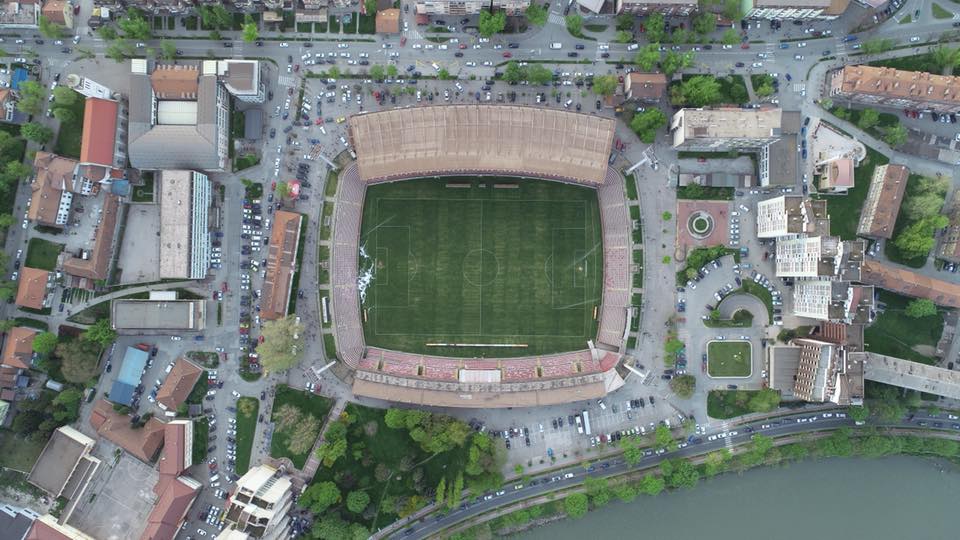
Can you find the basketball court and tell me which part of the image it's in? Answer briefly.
bottom left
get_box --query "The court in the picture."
[92,447,156,540]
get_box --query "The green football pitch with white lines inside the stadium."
[360,178,603,357]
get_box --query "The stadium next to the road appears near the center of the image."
[332,104,630,408]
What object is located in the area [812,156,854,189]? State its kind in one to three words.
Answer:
house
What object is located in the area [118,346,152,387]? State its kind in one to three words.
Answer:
building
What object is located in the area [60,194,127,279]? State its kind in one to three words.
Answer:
house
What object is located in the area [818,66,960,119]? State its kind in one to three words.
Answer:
building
